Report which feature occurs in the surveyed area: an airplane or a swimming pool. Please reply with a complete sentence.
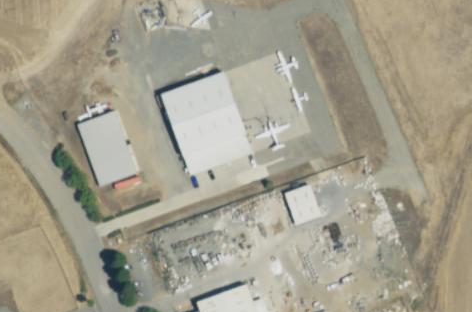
There is an airplane in the scene.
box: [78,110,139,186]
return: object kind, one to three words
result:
hangar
